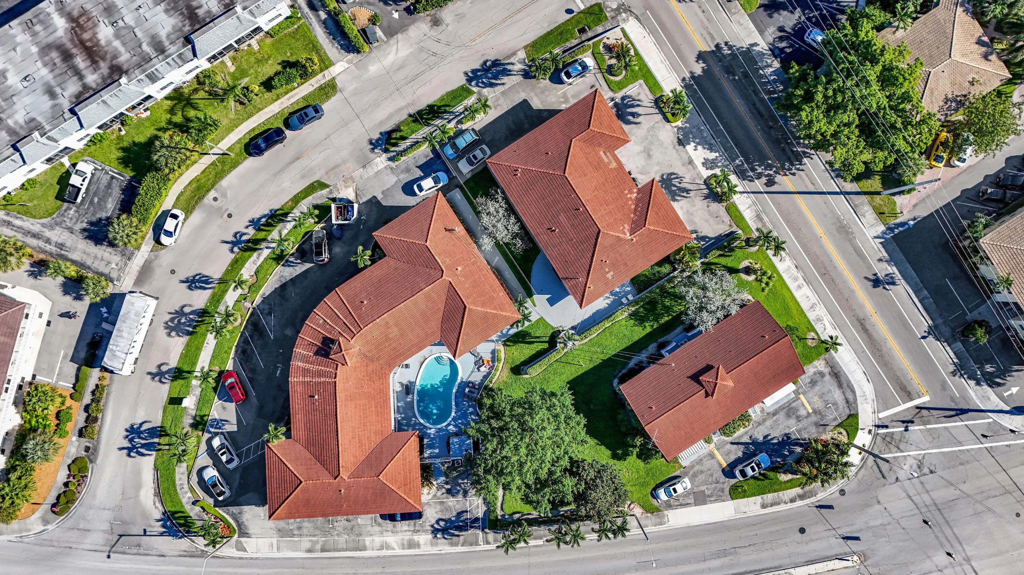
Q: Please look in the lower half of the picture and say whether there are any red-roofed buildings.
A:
Yes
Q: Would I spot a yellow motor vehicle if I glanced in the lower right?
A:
No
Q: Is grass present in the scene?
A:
Yes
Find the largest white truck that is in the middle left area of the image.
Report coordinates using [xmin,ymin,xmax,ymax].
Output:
[98,288,160,380]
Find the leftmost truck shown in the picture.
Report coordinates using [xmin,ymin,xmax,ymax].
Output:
[62,160,96,205]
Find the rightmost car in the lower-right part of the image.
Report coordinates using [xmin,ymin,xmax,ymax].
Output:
[732,451,771,482]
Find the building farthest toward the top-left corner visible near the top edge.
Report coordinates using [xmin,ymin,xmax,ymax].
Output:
[0,0,293,195]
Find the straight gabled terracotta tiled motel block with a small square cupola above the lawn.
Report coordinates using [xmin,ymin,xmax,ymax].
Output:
[620,300,805,461]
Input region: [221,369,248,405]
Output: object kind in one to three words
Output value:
car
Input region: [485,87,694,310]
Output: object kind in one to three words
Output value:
building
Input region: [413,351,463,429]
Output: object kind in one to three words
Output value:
swimming pool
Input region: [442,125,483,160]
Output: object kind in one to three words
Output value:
van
